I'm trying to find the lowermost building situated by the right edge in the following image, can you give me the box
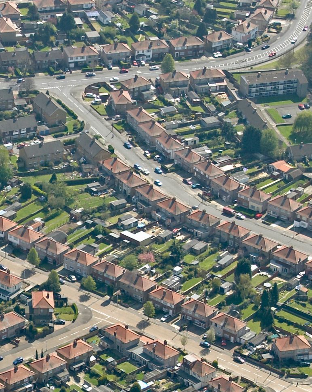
[272,339,311,370]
